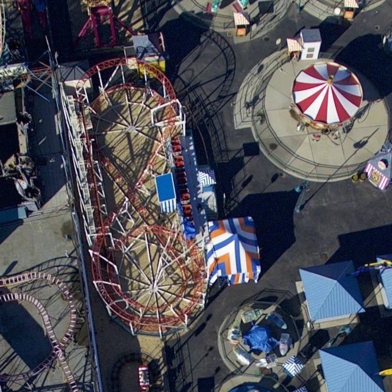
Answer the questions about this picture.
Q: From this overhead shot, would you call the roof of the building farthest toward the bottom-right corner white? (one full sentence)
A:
No, the roof of the building farthest toward the bottom-right corner is blue.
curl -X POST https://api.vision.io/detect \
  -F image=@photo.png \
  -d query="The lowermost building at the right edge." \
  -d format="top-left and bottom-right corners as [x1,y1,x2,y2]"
[312,340,385,392]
